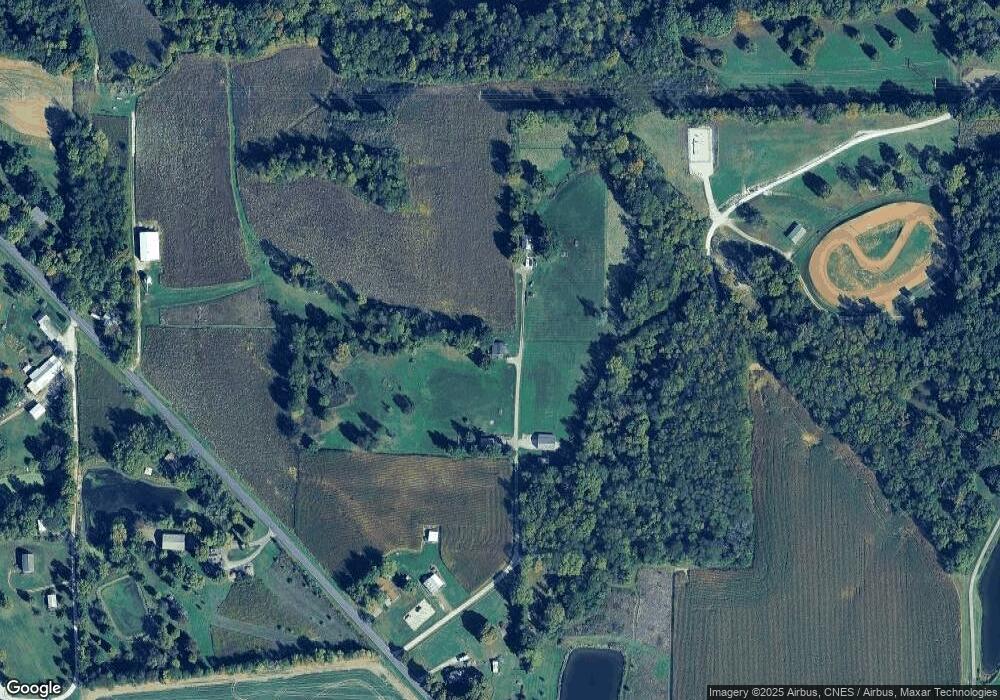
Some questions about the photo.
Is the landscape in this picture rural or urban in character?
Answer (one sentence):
The area is rural.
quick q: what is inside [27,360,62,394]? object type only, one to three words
barn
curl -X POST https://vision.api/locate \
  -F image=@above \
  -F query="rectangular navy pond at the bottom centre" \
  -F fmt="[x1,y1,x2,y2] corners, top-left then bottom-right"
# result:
[559,648,624,700]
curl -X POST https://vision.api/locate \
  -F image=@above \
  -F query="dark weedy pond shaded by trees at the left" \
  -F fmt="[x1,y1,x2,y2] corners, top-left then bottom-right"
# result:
[82,469,196,531]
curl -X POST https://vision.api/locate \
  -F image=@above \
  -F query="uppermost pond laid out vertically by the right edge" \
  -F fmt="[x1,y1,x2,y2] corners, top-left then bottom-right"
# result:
[979,542,1000,672]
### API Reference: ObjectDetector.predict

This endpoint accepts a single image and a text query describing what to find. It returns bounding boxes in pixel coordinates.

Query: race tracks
[801,191,948,317]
